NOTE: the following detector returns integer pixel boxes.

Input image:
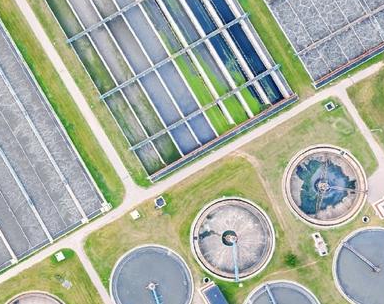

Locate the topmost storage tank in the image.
[281,144,370,230]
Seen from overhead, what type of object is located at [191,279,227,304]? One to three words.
shed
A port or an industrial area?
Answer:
industrial area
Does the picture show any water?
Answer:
Yes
